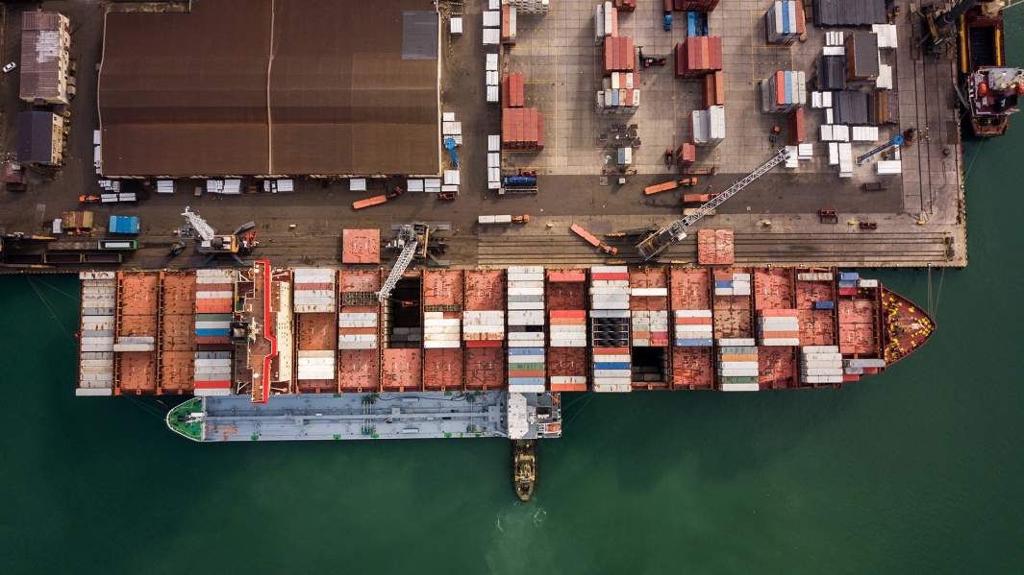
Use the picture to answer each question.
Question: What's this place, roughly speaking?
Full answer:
The picture captures a port.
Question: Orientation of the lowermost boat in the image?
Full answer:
In this picture, the lowermost boat is oriented vertically.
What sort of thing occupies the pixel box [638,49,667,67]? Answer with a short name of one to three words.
work vehicle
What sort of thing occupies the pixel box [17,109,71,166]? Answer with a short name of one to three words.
building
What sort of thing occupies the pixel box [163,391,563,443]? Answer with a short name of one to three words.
ship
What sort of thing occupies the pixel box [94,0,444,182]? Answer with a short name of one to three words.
warehouse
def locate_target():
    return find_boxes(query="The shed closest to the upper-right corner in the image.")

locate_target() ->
[846,32,879,81]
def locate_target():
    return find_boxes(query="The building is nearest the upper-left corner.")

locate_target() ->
[19,10,79,104]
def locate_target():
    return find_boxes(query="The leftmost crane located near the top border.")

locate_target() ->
[910,0,985,55]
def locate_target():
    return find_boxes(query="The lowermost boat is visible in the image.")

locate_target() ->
[511,440,539,502]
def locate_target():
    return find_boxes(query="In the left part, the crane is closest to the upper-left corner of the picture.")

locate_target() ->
[175,209,264,262]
